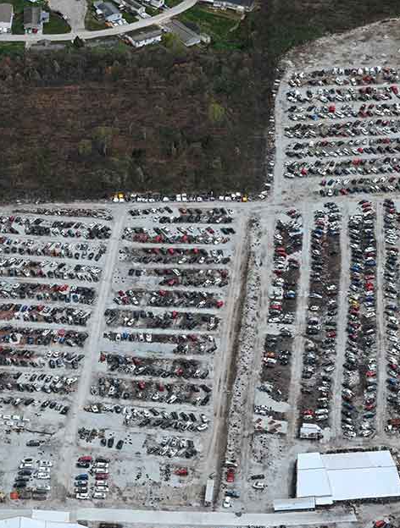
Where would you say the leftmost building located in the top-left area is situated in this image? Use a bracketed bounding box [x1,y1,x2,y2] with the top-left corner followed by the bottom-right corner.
[0,1,20,36]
